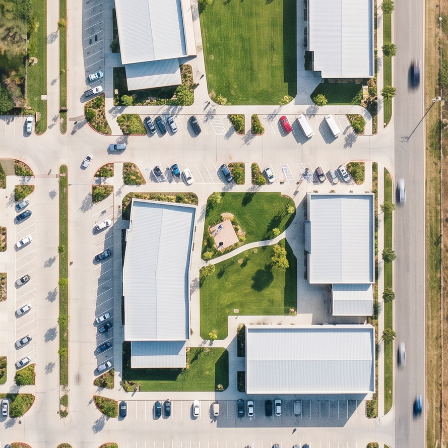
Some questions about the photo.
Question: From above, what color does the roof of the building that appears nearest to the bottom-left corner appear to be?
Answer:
white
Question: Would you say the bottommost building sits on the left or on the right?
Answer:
right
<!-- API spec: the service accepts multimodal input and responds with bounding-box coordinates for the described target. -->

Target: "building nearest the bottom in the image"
[243,321,375,394]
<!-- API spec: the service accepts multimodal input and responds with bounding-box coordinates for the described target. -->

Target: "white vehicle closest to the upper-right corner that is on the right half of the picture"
[324,113,341,138]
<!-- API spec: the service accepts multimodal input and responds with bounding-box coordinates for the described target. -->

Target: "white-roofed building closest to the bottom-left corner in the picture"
[122,196,197,369]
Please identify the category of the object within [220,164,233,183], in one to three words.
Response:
vehicle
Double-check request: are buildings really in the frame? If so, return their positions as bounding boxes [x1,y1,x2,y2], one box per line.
[304,192,375,316]
[115,0,197,91]
[122,196,197,369]
[243,321,375,394]
[306,0,374,78]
